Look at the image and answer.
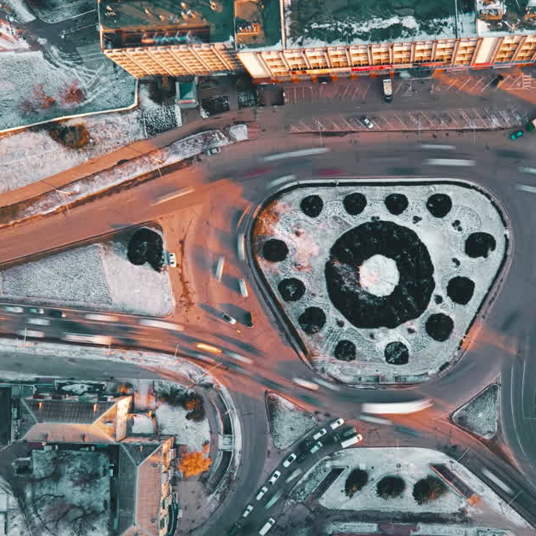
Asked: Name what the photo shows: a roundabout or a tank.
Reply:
roundabout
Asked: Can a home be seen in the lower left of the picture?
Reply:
Yes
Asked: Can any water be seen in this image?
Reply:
No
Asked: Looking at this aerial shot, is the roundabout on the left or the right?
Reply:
right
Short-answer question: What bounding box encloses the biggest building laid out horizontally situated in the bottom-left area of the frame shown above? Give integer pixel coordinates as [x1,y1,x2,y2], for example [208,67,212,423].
[22,394,138,443]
